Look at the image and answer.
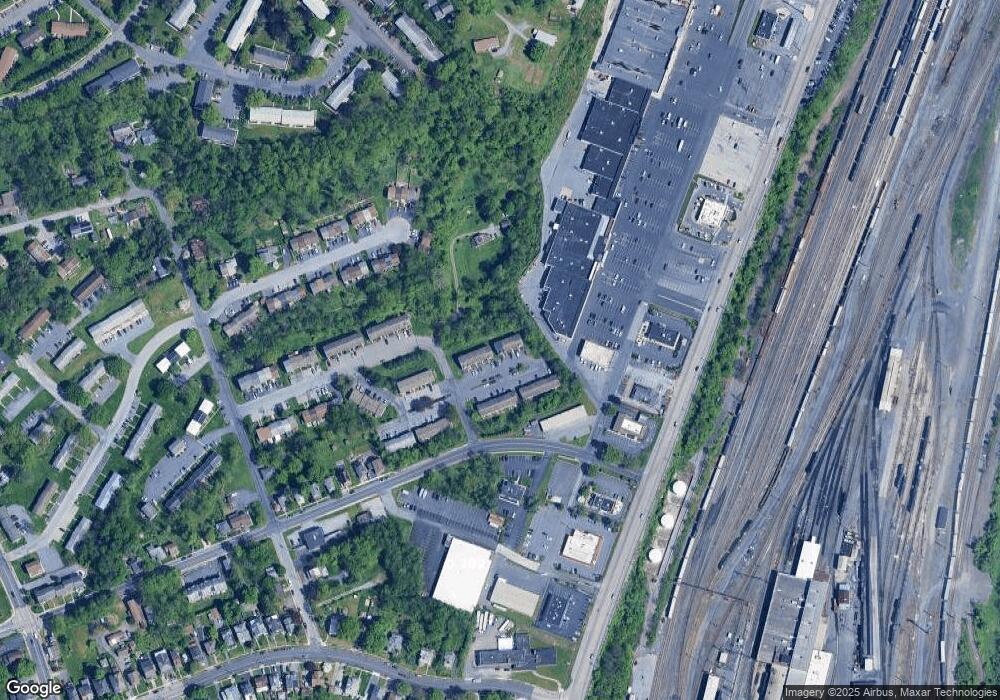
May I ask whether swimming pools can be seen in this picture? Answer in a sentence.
No, this view has no swimming pool in it.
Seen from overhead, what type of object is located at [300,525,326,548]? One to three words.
house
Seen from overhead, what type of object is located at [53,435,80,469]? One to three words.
building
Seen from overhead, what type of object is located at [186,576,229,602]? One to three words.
building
